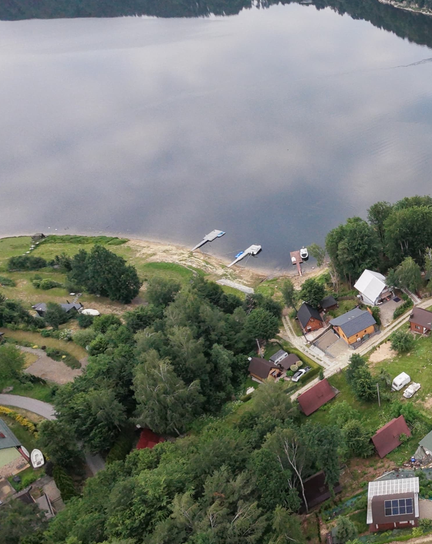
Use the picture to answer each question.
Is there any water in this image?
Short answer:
Yes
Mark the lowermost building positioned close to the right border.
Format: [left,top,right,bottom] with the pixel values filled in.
[369,475,417,531]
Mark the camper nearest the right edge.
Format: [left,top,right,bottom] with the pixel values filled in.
[392,372,410,391]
